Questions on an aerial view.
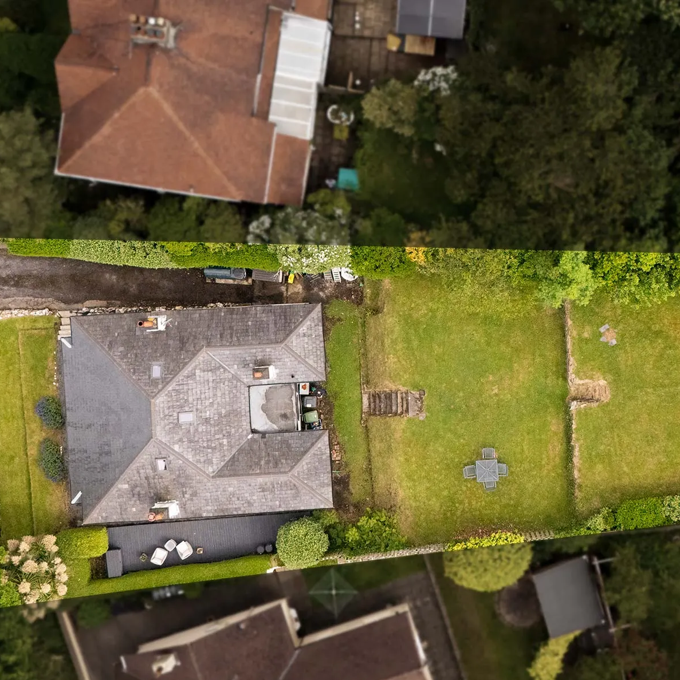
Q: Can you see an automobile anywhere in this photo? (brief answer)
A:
No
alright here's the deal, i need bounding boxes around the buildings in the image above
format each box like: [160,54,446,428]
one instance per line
[396,0,466,55]
[61,301,335,526]
[529,543,609,640]
[54,0,335,209]
[119,596,437,680]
